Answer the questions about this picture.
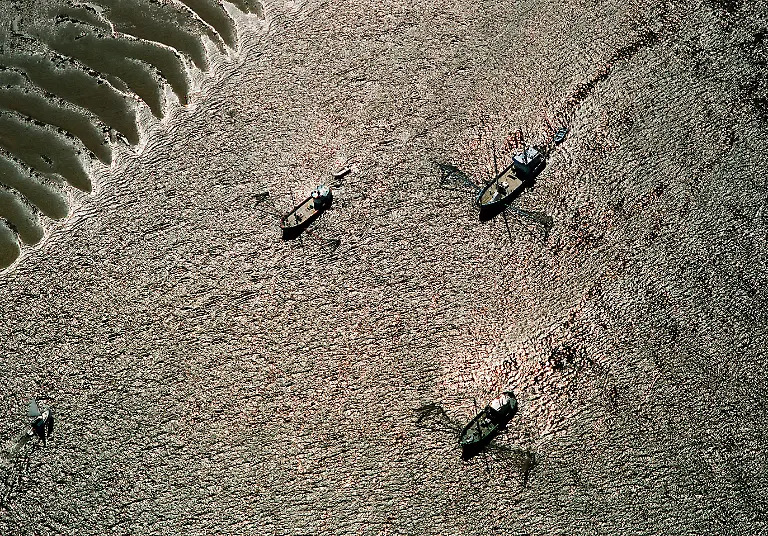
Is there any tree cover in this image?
No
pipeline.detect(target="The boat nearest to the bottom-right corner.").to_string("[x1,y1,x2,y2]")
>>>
[416,391,537,474]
